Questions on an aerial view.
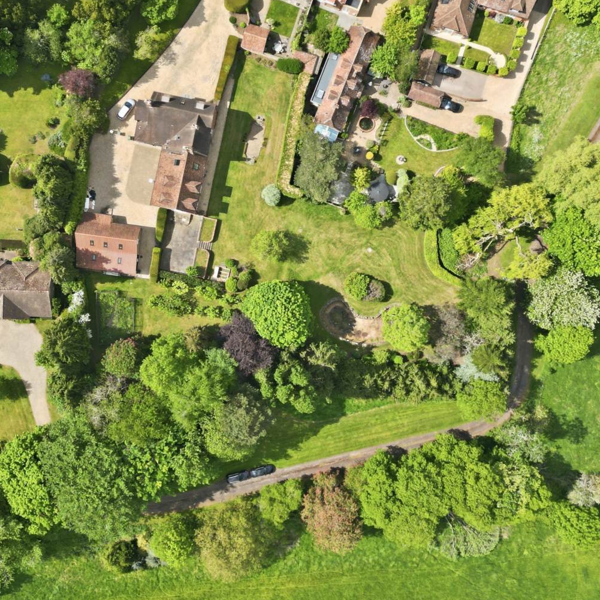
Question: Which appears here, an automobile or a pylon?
automobile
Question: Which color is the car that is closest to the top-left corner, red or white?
white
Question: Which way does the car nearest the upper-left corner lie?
diagonally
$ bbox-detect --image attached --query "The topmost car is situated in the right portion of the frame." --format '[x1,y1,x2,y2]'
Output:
[435,64,462,81]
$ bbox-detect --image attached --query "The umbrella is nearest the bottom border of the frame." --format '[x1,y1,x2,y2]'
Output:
[369,182,389,202]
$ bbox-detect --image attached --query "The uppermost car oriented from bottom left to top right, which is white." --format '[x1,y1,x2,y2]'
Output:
[115,97,138,124]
